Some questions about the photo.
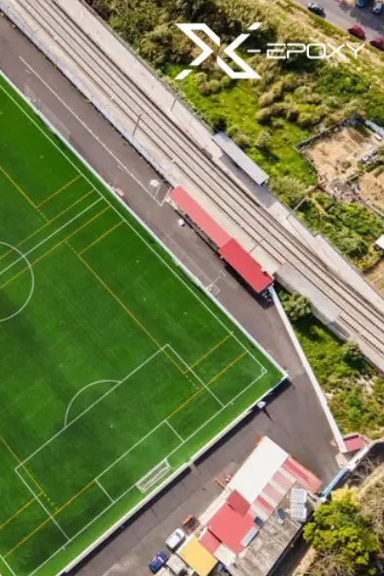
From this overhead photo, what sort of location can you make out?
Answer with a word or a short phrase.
sports ground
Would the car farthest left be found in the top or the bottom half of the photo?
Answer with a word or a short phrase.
bottom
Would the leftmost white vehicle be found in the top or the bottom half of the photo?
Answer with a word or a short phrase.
bottom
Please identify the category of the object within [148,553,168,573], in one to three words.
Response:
car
